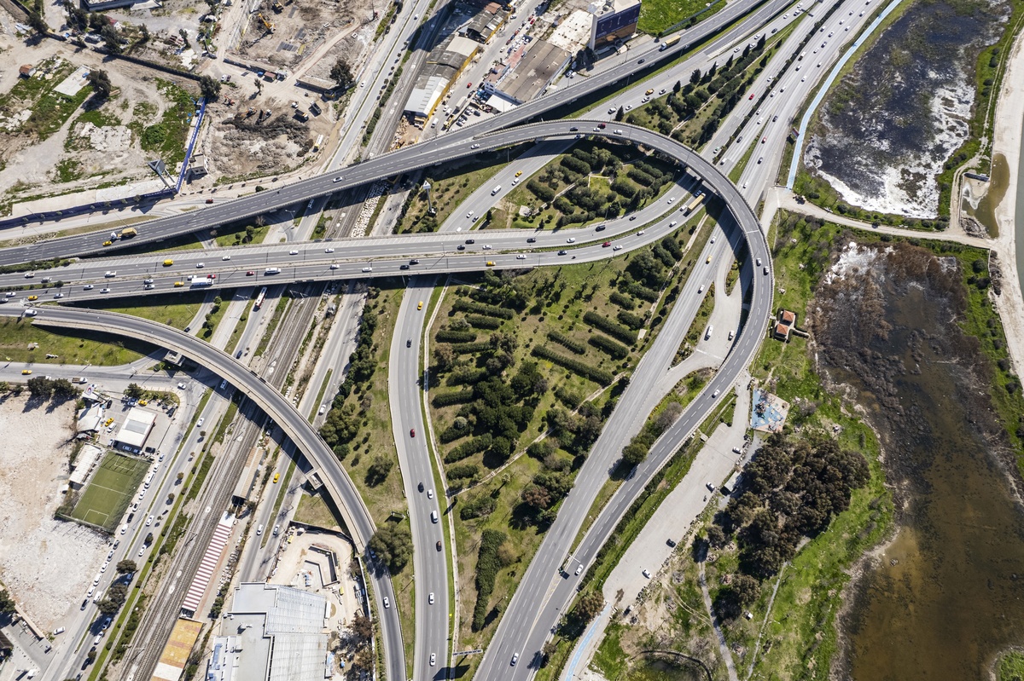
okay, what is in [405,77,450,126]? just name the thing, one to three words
building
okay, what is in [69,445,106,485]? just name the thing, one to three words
shed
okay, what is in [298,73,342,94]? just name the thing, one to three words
building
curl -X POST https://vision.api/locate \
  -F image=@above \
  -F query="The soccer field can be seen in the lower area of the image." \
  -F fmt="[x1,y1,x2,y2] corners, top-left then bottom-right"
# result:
[66,452,148,532]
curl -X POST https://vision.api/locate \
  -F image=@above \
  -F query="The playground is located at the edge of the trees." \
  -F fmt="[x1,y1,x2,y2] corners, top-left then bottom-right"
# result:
[752,389,789,432]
